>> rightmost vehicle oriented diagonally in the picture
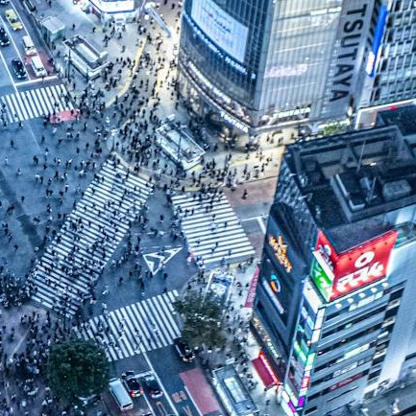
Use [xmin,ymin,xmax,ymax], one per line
[175,336,199,364]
